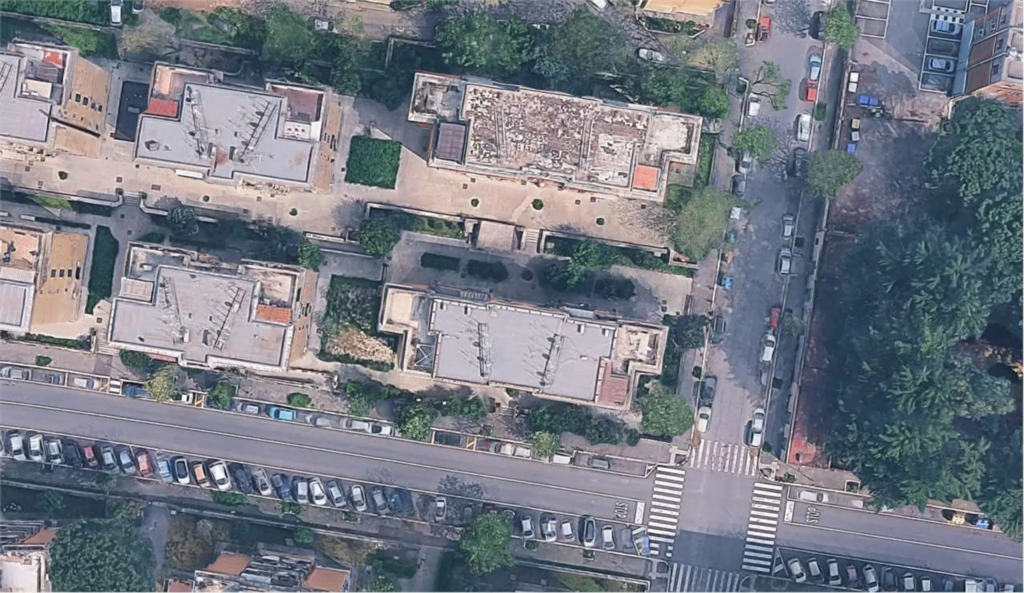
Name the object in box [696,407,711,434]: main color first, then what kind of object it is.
white car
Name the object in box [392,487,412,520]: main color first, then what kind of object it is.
blue car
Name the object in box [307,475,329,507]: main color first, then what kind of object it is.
white car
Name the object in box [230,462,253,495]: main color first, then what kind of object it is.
blue car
